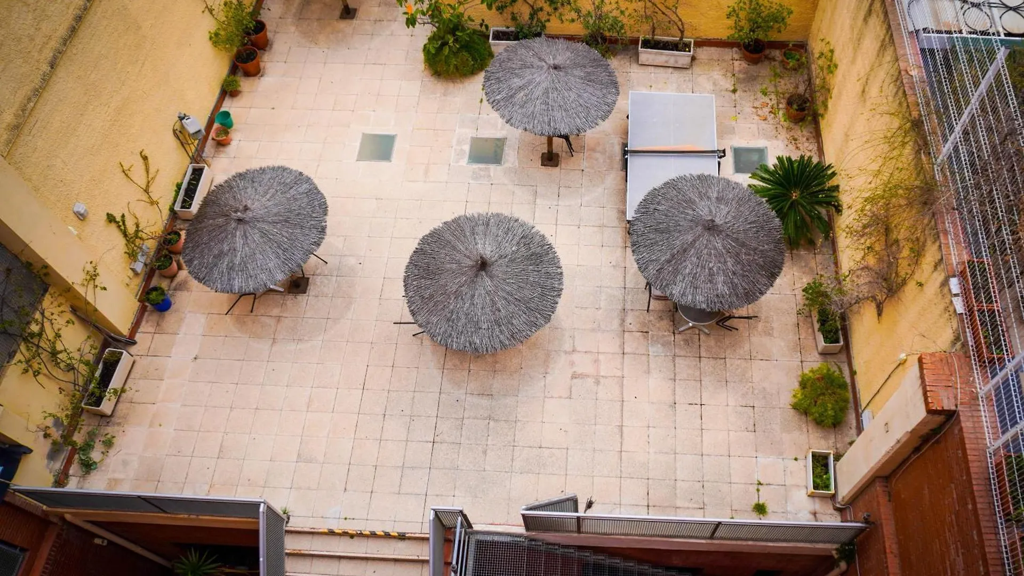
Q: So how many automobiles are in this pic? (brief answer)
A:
0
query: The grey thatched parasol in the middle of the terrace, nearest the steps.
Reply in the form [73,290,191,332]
[405,214,568,356]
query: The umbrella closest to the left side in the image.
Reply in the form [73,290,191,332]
[175,172,328,293]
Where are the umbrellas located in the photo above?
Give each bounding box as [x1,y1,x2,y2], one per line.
[175,172,328,293]
[405,214,568,356]
[623,181,785,319]
[487,38,626,166]
[338,0,356,18]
